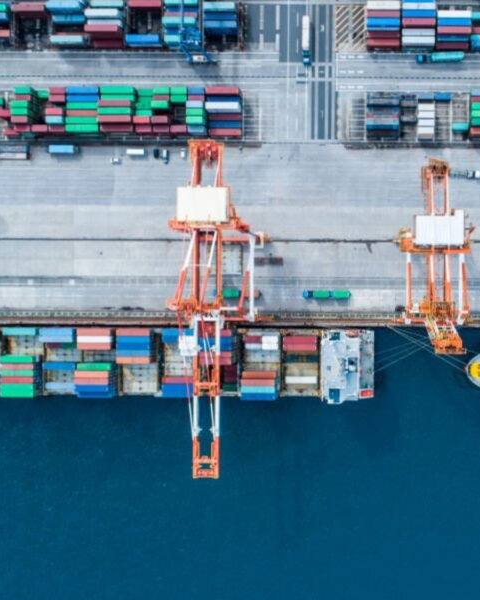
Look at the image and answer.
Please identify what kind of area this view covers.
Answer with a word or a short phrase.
port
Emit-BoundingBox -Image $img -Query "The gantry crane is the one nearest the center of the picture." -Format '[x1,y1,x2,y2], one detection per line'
[156,138,271,478]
